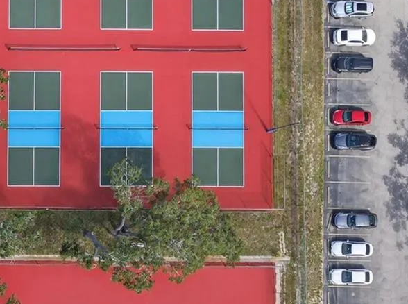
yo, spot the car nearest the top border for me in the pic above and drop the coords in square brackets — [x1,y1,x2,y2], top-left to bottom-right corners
[330,0,374,21]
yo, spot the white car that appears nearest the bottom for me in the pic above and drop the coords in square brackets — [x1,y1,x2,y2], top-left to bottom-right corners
[329,268,372,288]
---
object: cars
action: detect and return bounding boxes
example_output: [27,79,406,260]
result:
[330,240,373,259]
[331,54,373,74]
[333,211,378,231]
[331,107,372,127]
[329,268,372,288]
[332,27,374,48]
[333,132,378,152]
[330,0,374,21]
